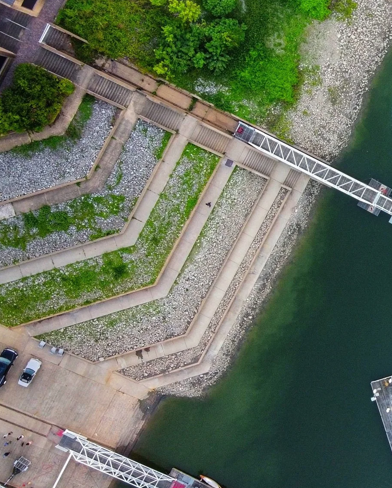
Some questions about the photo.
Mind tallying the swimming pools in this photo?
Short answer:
none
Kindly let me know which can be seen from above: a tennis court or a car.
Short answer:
car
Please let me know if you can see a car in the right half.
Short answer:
No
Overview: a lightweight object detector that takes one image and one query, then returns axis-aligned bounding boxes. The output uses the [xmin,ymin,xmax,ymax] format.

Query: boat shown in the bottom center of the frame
[200,475,222,488]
